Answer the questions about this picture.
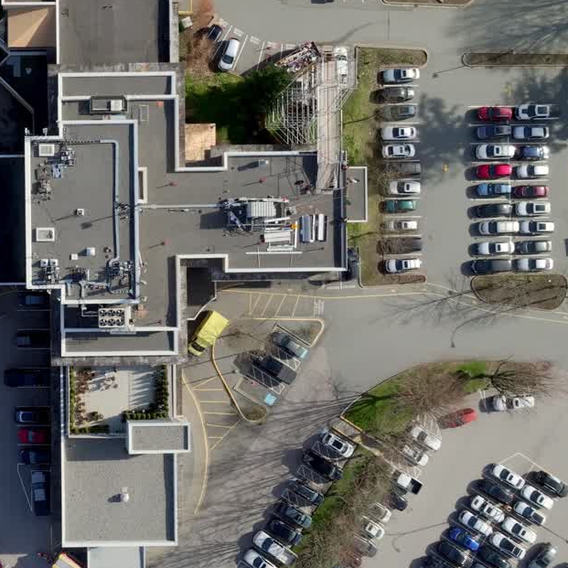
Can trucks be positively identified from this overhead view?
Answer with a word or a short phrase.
Yes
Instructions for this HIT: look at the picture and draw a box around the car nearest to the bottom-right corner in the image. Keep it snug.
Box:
[525,543,558,568]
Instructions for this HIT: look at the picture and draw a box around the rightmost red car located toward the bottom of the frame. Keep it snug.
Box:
[438,407,477,431]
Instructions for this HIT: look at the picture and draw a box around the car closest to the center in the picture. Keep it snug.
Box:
[273,330,310,359]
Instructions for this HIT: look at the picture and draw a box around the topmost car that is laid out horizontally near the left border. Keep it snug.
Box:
[17,291,51,309]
